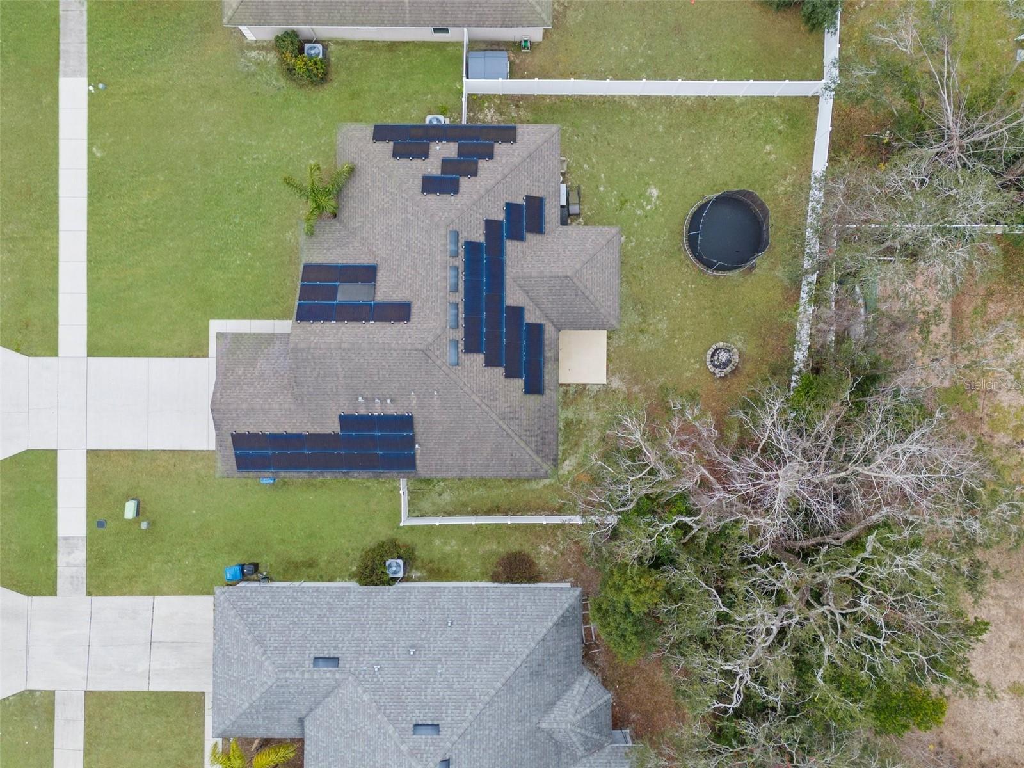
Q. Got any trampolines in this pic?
Yes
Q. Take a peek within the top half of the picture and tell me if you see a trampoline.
Yes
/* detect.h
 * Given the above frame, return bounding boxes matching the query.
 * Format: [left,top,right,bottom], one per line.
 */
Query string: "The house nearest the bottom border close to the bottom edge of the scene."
[213,580,643,768]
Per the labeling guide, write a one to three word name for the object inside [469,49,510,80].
shed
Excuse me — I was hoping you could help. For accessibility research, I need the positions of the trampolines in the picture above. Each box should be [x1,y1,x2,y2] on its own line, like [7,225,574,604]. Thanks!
[679,189,770,279]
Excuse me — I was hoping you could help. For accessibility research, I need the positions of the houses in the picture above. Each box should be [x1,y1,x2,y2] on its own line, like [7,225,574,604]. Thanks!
[223,0,552,42]
[213,580,643,768]
[210,124,621,478]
